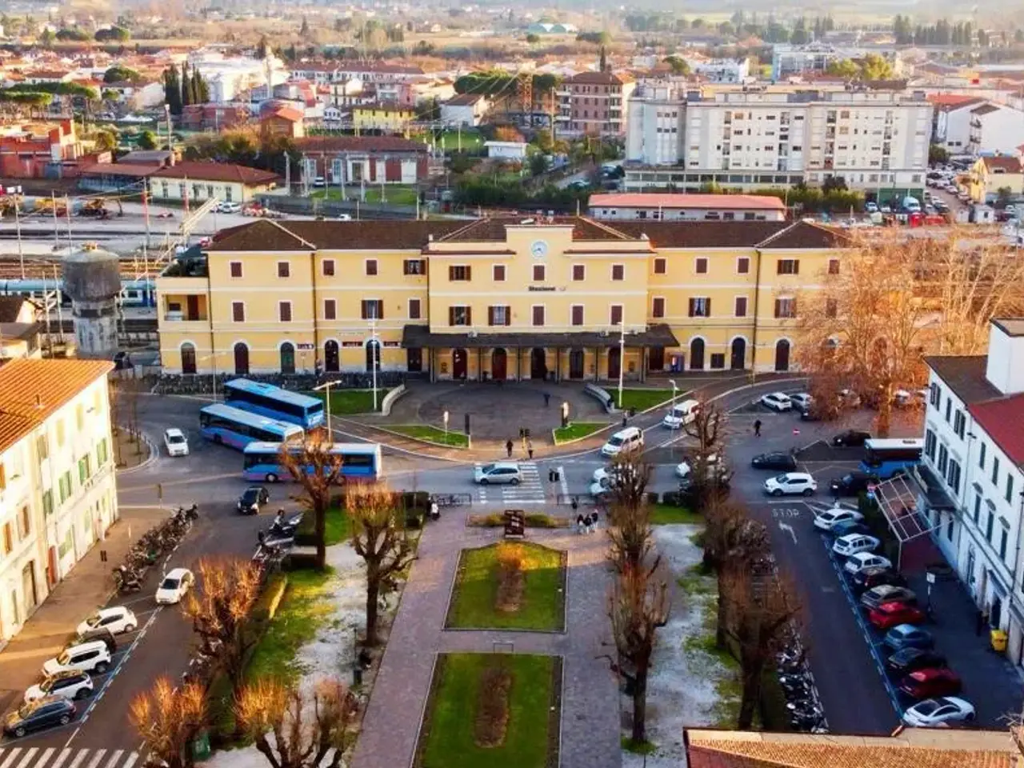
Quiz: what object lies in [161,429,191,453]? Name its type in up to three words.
car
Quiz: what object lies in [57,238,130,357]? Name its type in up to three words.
water tower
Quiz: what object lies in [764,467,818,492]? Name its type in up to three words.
car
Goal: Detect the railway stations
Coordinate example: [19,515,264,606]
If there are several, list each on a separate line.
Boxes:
[157,206,928,383]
